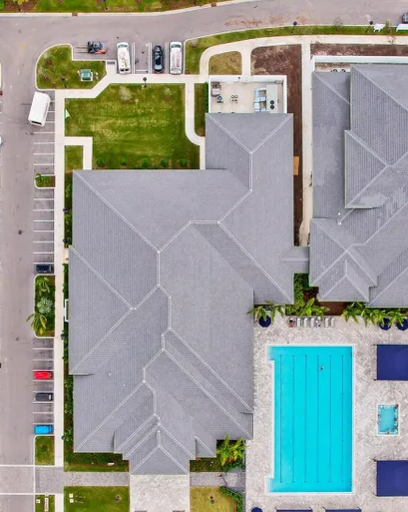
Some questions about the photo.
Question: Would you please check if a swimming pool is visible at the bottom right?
Yes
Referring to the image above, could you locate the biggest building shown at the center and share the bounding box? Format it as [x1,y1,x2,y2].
[68,112,295,475]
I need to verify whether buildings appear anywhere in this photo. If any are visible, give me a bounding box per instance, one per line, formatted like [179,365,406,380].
[309,64,408,308]
[68,112,295,475]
